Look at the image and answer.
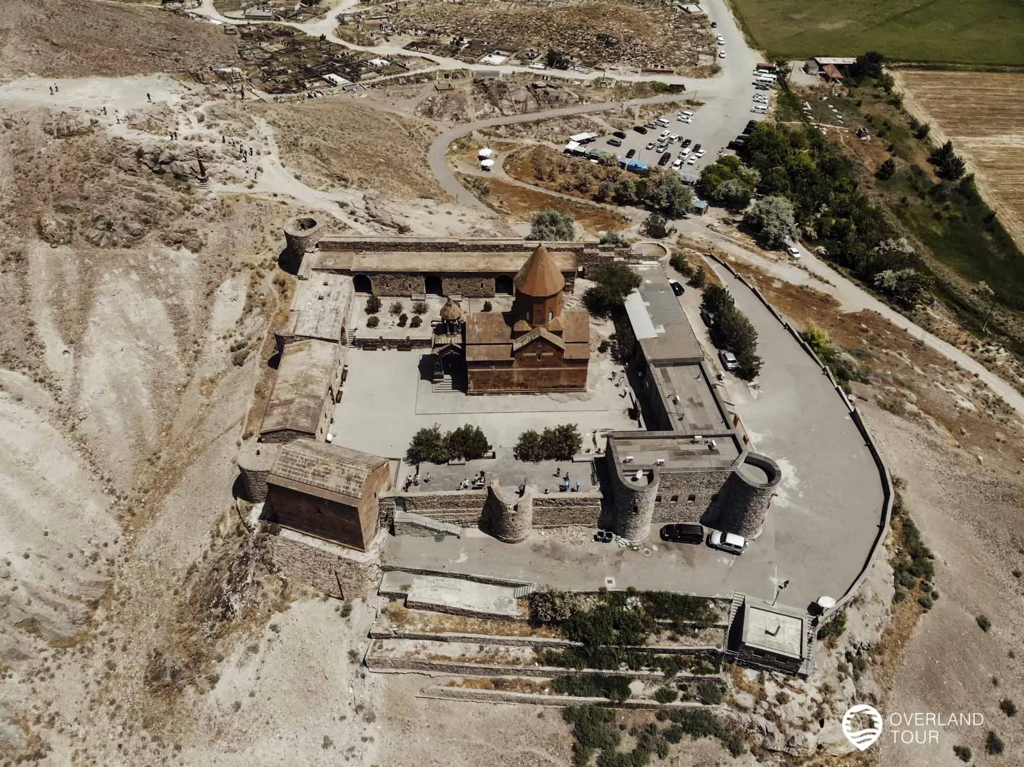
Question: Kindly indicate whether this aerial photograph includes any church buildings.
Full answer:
Yes, the image includes a church building.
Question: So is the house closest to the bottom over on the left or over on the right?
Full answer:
The house closest to the bottom is on the right side of the image.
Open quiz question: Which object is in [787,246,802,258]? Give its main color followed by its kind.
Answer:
white vehicle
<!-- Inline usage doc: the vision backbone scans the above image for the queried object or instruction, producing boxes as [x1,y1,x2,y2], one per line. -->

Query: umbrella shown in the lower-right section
[816,595,836,612]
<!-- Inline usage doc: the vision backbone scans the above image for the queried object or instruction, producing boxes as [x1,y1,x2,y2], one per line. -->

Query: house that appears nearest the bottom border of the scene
[718,596,818,696]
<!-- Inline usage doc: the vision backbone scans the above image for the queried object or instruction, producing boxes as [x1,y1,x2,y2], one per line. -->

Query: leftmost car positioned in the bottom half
[660,522,704,544]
